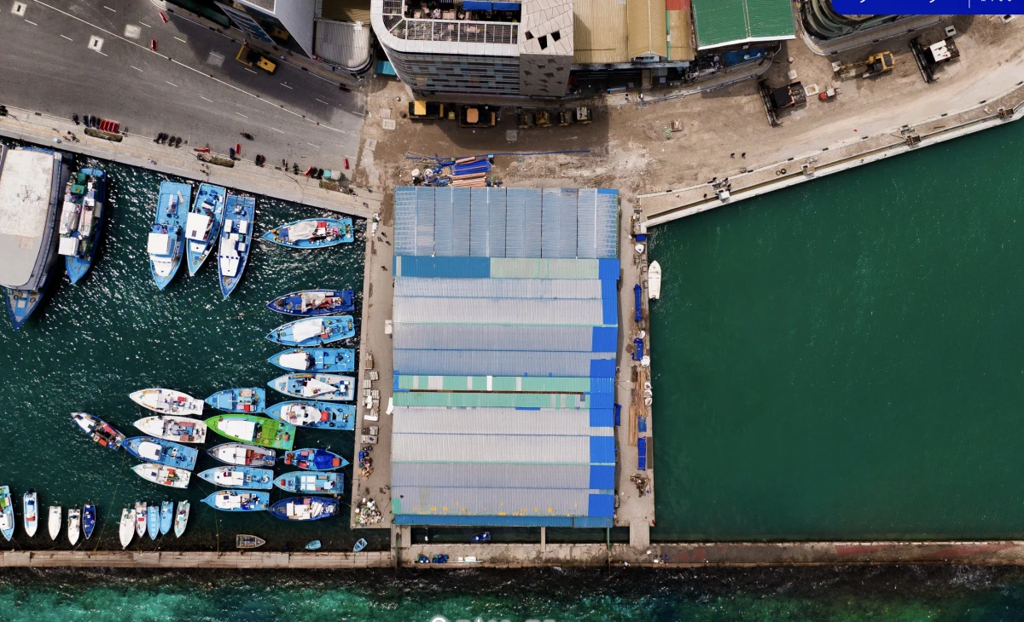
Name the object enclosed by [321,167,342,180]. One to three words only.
vehicle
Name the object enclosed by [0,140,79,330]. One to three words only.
ship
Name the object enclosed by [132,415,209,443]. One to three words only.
boat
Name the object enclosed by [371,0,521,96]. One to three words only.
building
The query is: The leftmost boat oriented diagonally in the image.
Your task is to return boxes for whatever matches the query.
[70,413,127,451]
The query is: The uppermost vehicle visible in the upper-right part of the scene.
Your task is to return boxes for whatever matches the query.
[839,49,902,77]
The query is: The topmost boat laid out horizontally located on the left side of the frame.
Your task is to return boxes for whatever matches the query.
[260,216,356,250]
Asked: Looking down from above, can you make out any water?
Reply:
Yes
